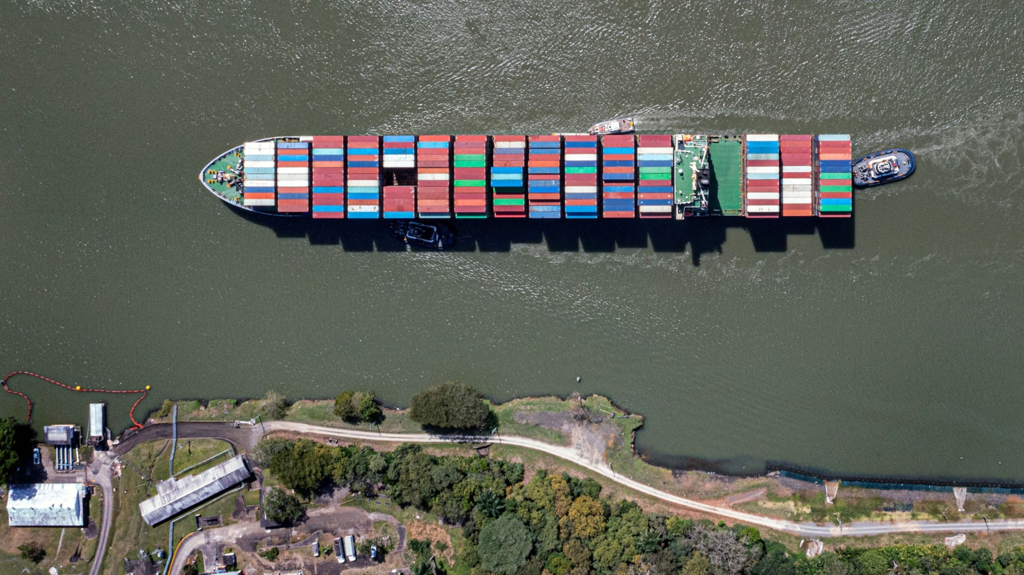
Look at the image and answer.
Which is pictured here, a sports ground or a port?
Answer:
port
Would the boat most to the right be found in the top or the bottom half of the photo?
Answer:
top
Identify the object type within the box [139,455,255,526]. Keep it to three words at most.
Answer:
shed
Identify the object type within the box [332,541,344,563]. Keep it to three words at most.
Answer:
vehicle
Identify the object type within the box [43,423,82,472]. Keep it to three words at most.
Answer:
building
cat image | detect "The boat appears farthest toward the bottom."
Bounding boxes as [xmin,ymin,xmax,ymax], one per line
[387,217,458,249]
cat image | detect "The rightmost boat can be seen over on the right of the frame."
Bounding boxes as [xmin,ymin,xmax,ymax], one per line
[847,150,915,187]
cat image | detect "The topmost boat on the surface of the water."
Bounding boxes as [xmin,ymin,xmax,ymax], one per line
[589,118,637,135]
